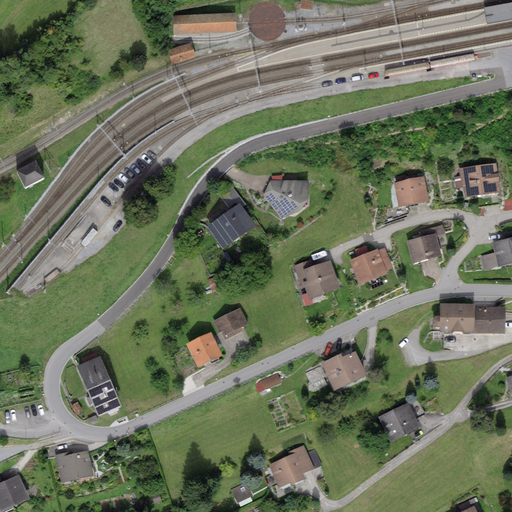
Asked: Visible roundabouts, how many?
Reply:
0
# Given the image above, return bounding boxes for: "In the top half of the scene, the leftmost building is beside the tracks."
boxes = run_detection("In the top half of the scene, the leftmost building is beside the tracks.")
[17,160,45,188]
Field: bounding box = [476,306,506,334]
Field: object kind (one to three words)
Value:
barn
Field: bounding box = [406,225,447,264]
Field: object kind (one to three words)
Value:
house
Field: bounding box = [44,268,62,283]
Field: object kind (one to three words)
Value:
rail car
